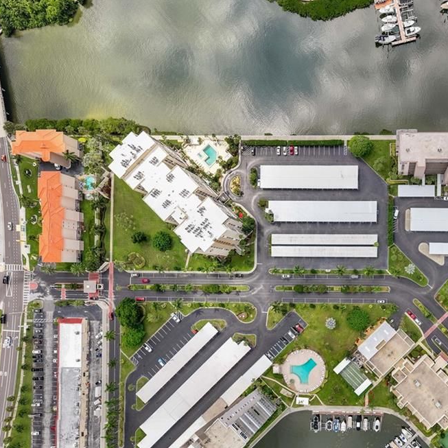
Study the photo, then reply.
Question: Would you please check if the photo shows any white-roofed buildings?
Yes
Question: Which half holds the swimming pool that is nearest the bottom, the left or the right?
right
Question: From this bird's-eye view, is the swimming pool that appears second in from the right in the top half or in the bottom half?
top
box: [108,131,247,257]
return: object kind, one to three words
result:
building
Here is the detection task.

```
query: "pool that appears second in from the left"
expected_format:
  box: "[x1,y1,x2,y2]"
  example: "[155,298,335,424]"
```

[185,139,232,174]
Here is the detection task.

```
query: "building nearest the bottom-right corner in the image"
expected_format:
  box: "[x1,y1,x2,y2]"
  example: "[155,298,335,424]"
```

[390,354,448,430]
